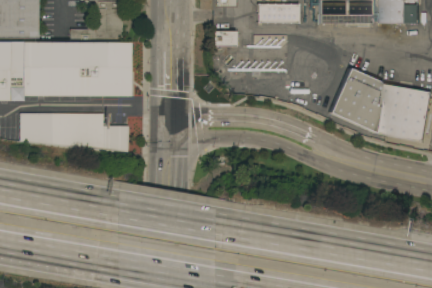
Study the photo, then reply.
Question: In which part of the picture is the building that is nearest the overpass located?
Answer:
left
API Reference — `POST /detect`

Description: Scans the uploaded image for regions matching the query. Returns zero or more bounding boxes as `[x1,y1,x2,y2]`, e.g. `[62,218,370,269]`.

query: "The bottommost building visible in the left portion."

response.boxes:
[20,113,128,152]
